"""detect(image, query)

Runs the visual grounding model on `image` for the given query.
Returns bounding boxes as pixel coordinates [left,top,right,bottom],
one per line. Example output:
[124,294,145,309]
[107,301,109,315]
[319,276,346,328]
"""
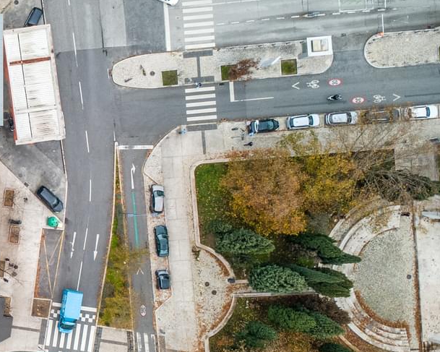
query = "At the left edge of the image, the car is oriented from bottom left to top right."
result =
[21,1,47,29]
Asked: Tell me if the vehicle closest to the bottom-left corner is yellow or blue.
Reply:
blue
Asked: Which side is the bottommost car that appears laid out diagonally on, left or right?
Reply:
left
